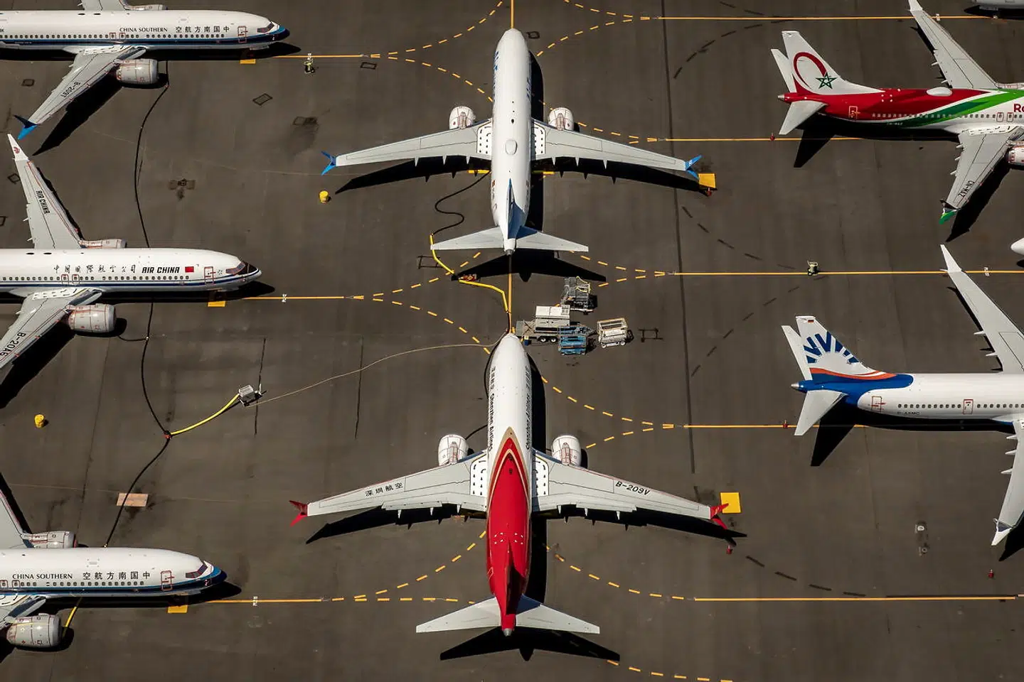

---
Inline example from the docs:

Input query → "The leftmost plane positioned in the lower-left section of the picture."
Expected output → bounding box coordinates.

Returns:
[0,483,227,646]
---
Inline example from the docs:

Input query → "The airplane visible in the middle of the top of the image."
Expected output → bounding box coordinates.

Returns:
[321,29,702,257]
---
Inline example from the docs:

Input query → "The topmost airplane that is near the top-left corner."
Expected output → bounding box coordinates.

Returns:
[0,0,289,136]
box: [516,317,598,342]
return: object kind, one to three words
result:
trailer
